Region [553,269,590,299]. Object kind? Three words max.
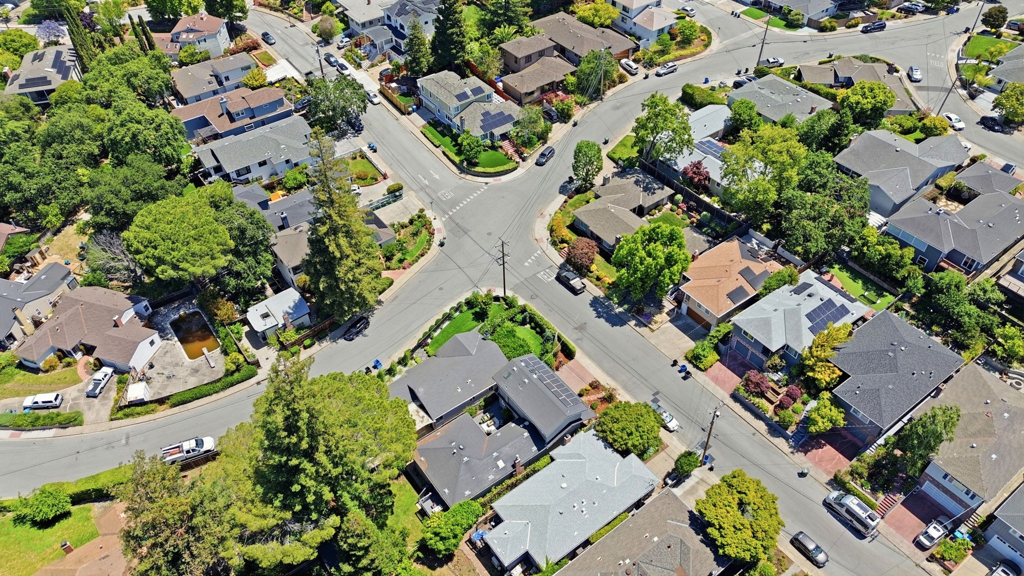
truck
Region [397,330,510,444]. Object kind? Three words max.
house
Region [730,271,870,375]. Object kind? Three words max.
house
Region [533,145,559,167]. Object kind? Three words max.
car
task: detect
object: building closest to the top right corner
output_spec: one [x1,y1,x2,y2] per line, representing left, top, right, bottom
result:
[985,47,1024,94]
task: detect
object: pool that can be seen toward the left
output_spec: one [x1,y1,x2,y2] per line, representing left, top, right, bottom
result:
[166,308,229,362]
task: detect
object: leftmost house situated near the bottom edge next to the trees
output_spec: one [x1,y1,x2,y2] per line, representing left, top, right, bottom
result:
[35,505,145,576]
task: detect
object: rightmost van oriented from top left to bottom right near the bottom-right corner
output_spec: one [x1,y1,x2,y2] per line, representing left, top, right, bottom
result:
[822,493,883,541]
